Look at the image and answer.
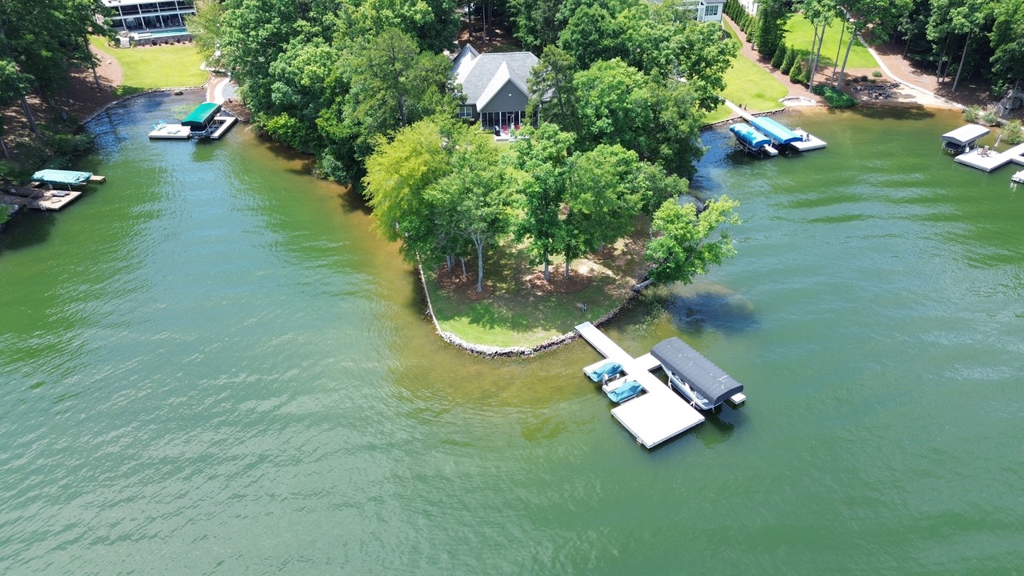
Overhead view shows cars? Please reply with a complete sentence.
No, the scene contains no car.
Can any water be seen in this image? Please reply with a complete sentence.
Yes, water can be seen from above here.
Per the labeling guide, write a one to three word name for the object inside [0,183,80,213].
pier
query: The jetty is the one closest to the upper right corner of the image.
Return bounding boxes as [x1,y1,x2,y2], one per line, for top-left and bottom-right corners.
[954,139,1024,175]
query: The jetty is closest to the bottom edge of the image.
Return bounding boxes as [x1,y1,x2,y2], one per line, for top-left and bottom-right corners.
[573,321,746,451]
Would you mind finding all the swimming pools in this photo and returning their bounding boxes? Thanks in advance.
[135,25,202,43]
